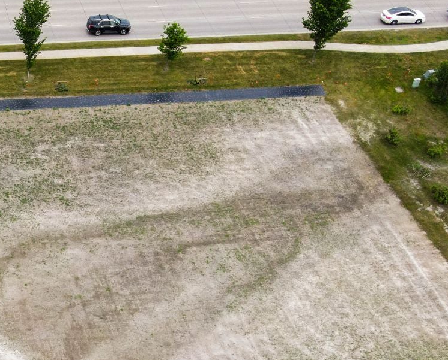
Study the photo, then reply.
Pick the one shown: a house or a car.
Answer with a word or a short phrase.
car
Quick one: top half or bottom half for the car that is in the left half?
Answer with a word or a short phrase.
top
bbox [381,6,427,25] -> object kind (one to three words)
car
